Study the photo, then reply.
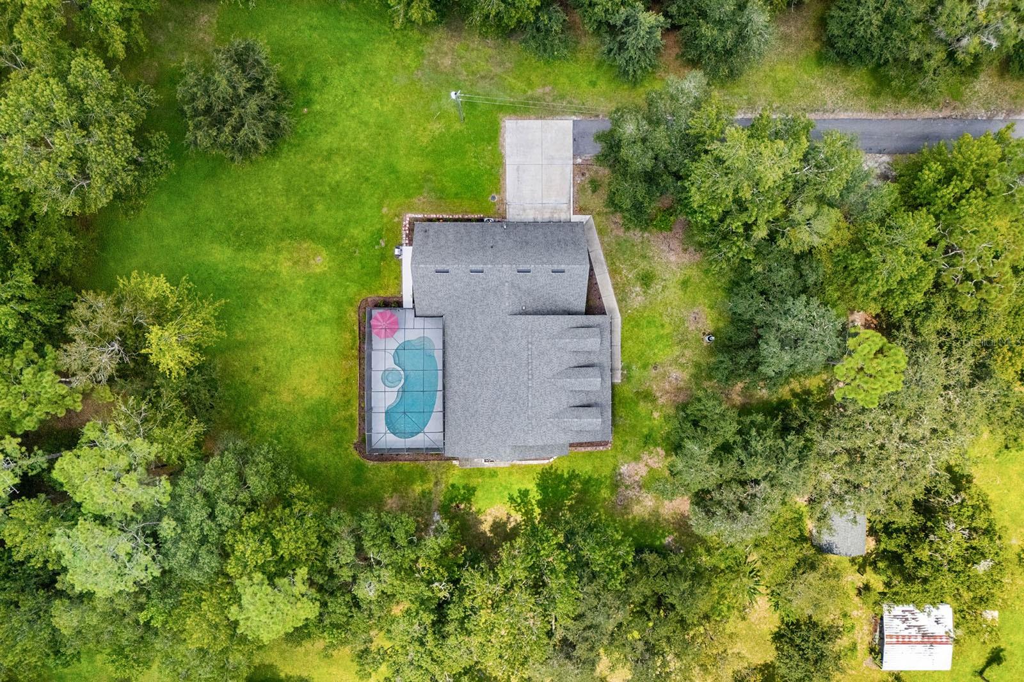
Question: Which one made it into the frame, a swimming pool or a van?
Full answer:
Of the two, only a swimming pool appears.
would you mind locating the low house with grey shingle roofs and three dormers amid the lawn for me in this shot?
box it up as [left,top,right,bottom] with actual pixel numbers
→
[411,221,613,460]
